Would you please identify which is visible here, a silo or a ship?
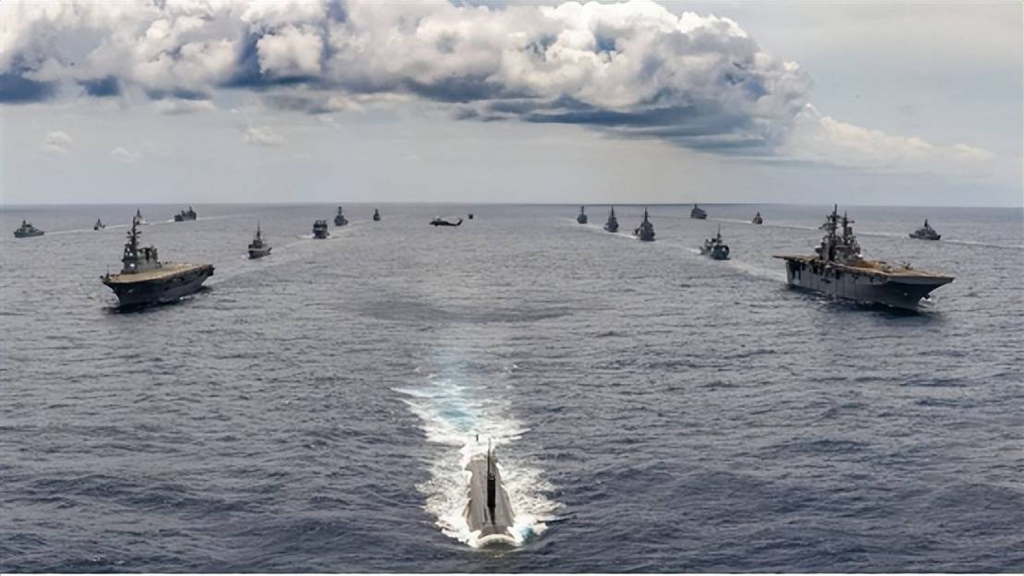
ship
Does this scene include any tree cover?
No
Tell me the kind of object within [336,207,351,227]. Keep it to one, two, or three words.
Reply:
ship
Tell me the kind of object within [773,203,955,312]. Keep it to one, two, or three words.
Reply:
ship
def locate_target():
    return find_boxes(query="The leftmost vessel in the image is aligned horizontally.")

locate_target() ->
[12,220,48,238]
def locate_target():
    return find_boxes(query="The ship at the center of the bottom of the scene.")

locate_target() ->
[464,433,516,530]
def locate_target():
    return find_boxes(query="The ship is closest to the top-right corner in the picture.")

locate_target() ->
[905,219,941,241]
